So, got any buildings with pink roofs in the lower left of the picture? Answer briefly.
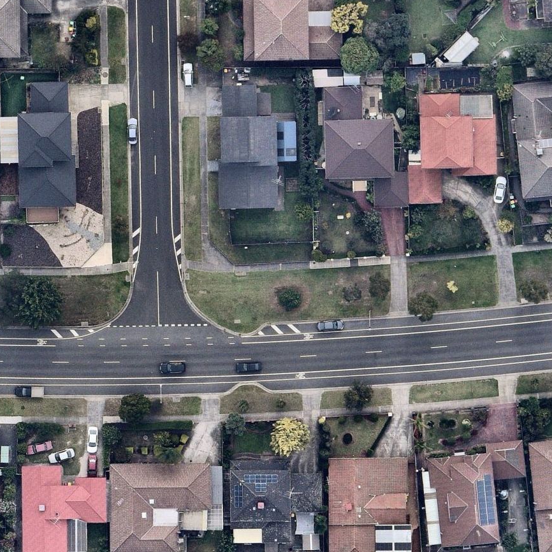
Yes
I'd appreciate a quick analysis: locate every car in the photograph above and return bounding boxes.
[493,177,507,203]
[317,319,343,331]
[235,362,262,373]
[86,454,98,478]
[48,448,75,464]
[86,427,98,453]
[182,63,192,87]
[127,118,139,145]
[26,441,53,455]
[159,362,185,374]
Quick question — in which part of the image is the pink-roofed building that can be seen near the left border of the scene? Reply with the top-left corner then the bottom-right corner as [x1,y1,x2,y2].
[20,466,106,552]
